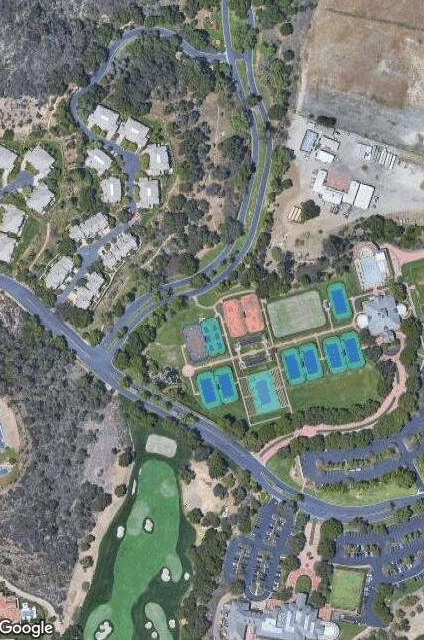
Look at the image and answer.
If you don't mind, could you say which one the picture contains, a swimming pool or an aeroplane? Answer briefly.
swimming pool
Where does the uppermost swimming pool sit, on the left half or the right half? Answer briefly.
right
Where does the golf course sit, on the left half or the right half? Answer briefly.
left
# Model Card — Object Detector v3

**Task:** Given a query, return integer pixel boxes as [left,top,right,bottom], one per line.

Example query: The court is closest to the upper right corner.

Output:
[326,282,354,323]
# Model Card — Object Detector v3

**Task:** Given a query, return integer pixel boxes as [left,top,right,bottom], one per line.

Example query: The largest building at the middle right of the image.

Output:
[360,292,405,342]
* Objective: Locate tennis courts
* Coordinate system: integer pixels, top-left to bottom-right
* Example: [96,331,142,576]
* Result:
[299,342,324,380]
[240,295,265,332]
[322,336,348,373]
[195,371,221,409]
[223,300,247,336]
[247,369,280,415]
[280,347,306,385]
[213,366,239,405]
[326,282,354,323]
[184,323,208,362]
[341,330,366,368]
